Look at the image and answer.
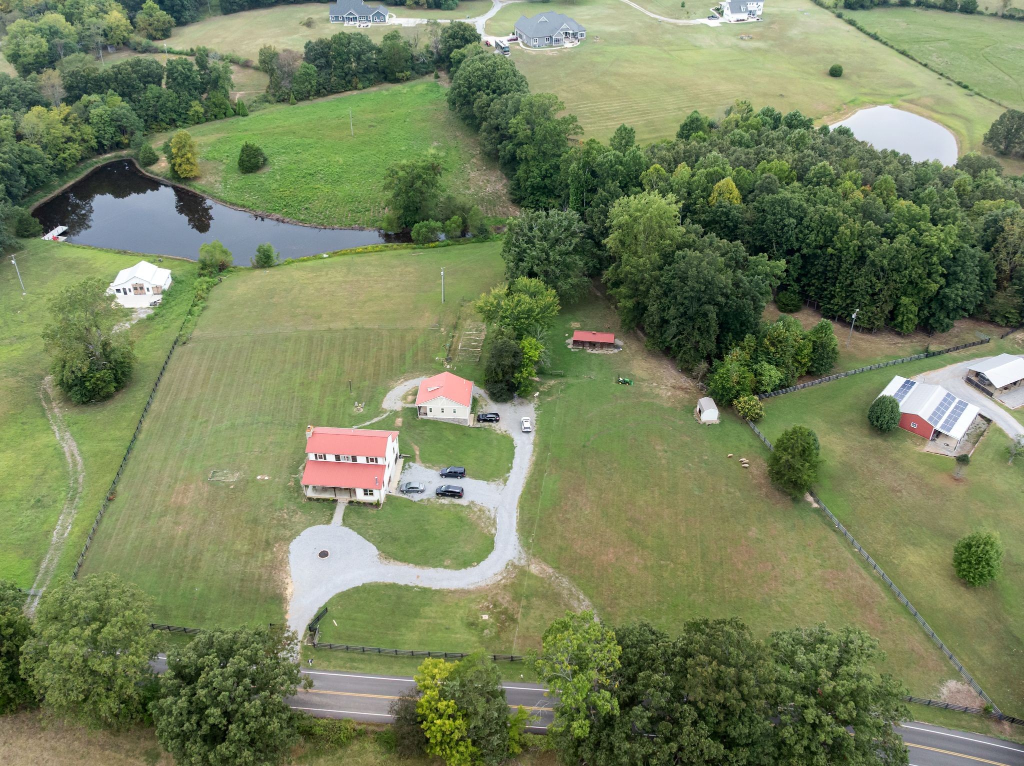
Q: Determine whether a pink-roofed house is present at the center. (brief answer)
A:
Yes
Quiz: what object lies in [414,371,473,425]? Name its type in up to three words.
house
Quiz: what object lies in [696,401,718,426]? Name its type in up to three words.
shed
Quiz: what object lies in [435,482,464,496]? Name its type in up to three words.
car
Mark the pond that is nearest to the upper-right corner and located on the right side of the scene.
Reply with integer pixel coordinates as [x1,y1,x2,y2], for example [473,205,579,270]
[813,106,959,193]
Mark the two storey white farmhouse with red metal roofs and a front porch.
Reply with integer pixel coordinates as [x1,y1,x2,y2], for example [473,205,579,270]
[299,418,401,504]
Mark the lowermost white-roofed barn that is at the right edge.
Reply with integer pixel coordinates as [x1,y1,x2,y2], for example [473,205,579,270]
[870,384,980,453]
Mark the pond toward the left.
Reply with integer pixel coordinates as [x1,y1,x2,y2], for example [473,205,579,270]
[33,160,503,268]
